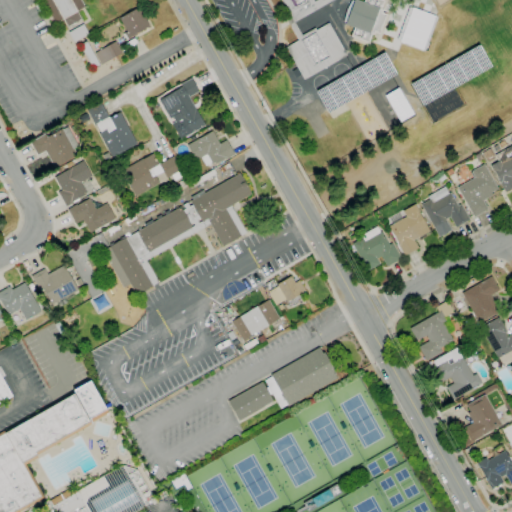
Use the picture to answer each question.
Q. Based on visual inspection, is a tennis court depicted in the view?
Yes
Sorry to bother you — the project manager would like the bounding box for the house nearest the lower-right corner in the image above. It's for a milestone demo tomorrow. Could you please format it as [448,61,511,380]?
[480,450,512,490]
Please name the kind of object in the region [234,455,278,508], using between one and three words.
tennis court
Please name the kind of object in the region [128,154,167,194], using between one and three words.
house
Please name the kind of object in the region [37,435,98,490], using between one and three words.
swimming pool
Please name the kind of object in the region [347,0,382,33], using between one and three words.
building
